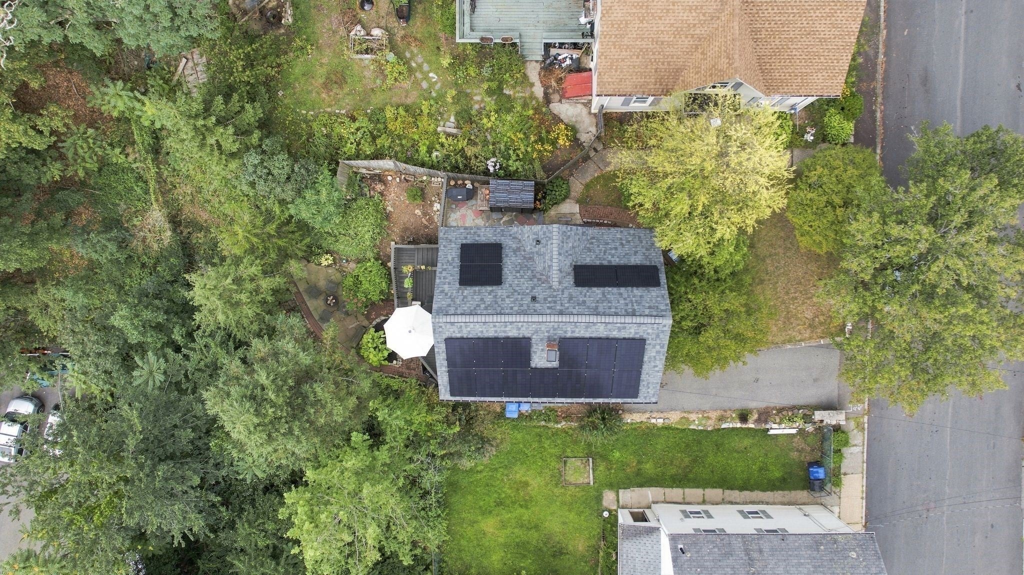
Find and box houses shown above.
[592,0,867,124]
[431,222,672,405]
[652,502,887,575]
